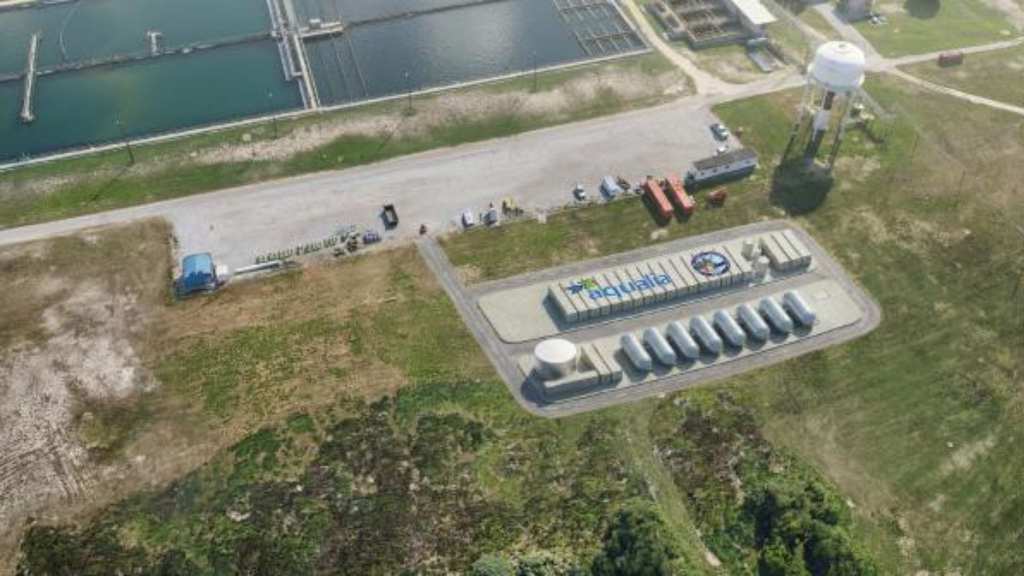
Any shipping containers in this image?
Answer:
Yes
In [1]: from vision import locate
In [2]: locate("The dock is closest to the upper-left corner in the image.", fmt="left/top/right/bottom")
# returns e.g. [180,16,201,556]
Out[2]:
[21,31,38,121]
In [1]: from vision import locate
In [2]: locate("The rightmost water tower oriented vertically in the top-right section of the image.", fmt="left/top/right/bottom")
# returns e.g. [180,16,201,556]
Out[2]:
[797,37,862,151]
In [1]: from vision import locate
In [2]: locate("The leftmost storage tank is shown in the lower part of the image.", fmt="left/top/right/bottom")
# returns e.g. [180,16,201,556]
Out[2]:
[534,337,578,382]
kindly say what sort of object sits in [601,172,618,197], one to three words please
vehicle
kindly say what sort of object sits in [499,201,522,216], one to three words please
work vehicle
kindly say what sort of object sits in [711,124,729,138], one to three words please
vehicle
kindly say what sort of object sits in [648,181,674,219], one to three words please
shipping container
